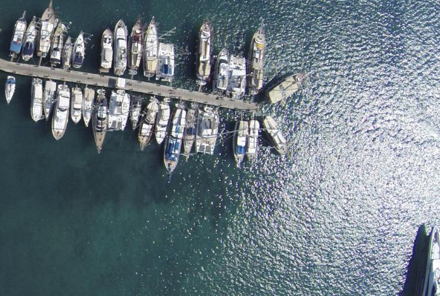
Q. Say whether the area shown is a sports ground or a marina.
marina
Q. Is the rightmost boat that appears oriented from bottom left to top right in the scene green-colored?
No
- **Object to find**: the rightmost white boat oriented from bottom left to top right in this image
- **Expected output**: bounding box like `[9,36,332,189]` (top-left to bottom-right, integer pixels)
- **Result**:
[264,74,305,106]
